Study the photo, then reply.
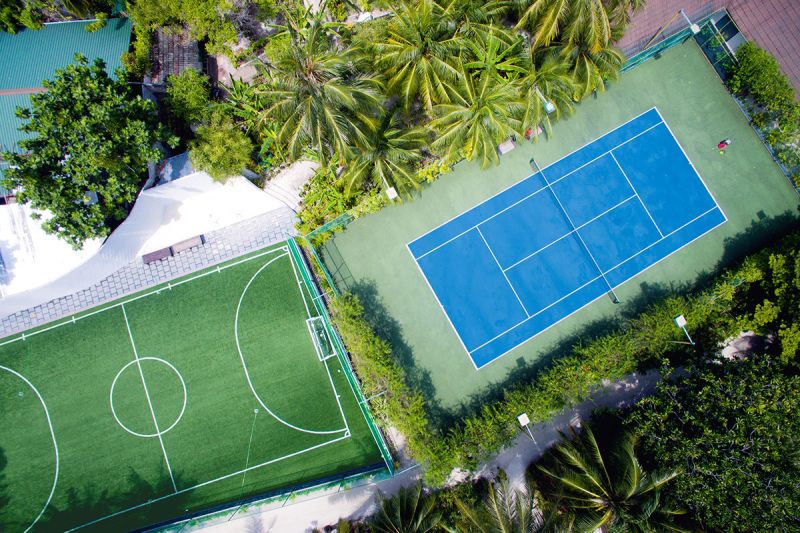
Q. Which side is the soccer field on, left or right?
left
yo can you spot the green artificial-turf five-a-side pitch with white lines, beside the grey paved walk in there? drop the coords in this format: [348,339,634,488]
[0,244,385,533]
